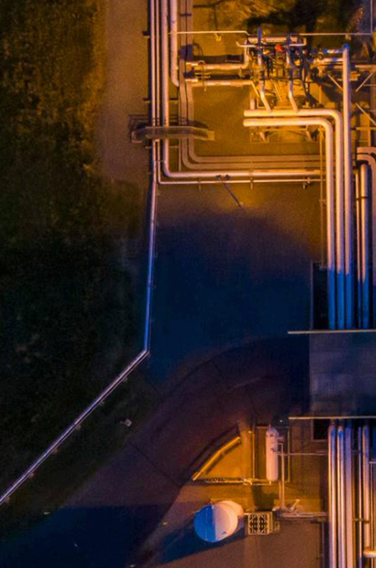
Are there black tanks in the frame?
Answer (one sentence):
No, no black tank can be seen from above.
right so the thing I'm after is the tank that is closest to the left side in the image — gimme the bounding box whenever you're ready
[194,497,244,543]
